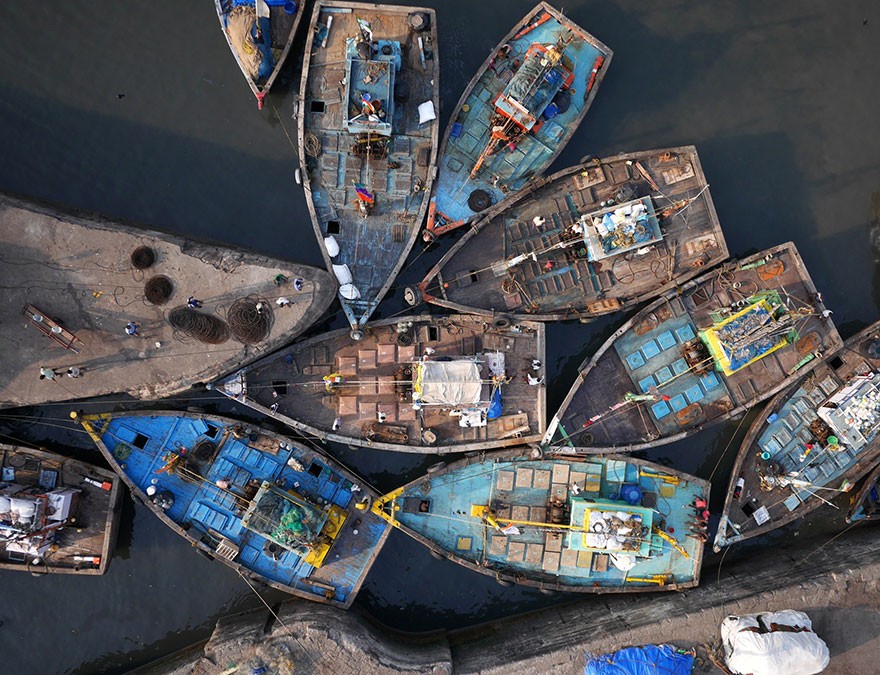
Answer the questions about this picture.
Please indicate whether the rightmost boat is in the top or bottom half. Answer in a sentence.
You can find the rightmost boat in the bottom half.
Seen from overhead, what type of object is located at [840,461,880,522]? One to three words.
boat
